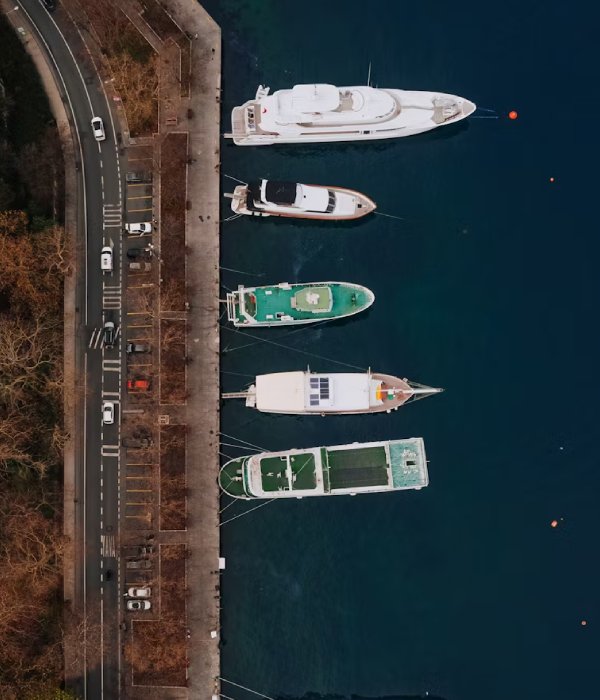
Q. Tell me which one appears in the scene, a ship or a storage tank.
ship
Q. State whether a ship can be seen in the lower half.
Yes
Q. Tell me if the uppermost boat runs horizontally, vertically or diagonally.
horizontally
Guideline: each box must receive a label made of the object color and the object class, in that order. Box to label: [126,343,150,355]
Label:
gray vehicle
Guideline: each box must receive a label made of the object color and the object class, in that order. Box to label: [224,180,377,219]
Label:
white boat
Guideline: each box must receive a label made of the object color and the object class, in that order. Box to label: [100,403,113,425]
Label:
white vehicle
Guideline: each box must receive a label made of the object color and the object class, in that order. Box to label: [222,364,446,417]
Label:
white boat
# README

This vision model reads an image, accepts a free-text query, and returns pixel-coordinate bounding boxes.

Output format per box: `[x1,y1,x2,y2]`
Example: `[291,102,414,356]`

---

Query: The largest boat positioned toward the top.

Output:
[224,60,476,148]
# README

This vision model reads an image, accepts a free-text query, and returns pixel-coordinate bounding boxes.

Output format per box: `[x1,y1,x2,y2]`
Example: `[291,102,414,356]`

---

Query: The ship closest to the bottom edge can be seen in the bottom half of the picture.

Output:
[219,436,430,501]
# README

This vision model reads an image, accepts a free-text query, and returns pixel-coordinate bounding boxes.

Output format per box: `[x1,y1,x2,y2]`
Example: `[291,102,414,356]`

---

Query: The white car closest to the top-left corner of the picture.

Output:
[90,115,105,139]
